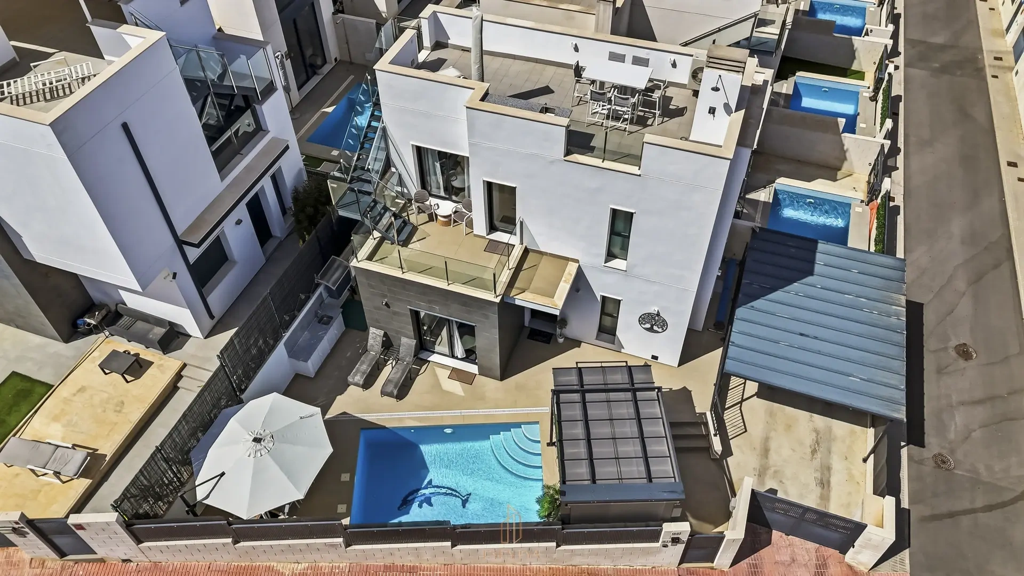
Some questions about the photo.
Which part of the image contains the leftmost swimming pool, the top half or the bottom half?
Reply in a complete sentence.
The leftmost swimming pool sits in the top half of the picture.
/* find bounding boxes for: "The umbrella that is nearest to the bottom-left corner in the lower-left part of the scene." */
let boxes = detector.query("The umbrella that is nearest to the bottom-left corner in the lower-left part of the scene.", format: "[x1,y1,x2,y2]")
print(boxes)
[182,392,335,519]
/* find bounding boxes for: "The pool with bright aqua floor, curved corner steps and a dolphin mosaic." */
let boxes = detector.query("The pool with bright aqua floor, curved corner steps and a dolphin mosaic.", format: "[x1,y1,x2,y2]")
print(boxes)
[350,423,545,536]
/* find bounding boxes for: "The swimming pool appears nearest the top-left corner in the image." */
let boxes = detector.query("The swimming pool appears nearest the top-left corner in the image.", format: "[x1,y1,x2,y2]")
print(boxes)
[297,77,386,150]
